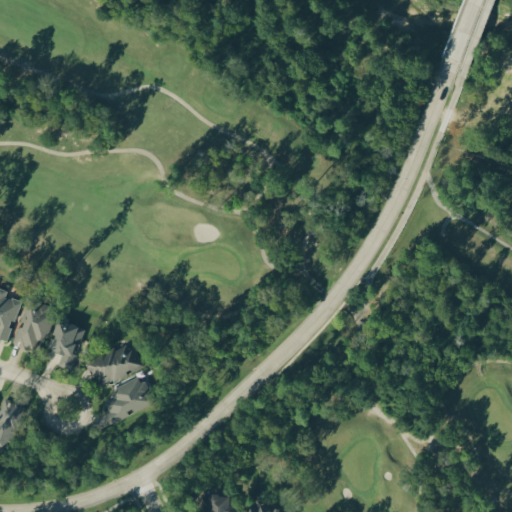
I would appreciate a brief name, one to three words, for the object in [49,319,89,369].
house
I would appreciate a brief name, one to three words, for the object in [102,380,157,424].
house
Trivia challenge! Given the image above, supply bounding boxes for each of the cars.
[440,86,449,100]
[10,344,20,358]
